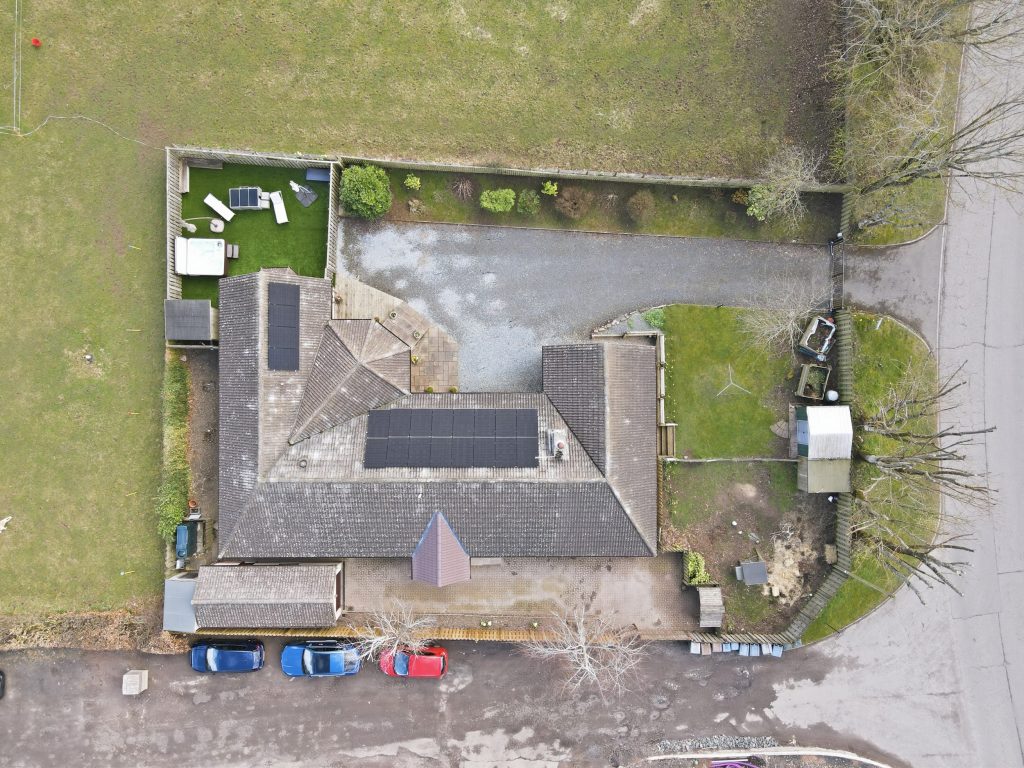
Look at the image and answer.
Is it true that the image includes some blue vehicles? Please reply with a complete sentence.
Yes, there's a blue vehicle here.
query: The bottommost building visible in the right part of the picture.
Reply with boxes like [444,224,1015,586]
[698,587,725,628]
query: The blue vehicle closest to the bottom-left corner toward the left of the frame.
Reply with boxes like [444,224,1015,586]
[192,638,267,677]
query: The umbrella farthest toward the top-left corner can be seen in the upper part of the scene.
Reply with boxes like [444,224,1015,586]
[185,217,223,233]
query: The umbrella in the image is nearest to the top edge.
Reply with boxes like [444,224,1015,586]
[290,180,318,206]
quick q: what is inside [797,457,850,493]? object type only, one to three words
shed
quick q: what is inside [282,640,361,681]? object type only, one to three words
car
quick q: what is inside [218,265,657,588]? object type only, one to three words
house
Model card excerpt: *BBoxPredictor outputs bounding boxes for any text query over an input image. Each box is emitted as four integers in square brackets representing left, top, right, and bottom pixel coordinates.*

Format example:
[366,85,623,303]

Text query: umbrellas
[185,217,223,233]
[290,180,318,206]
